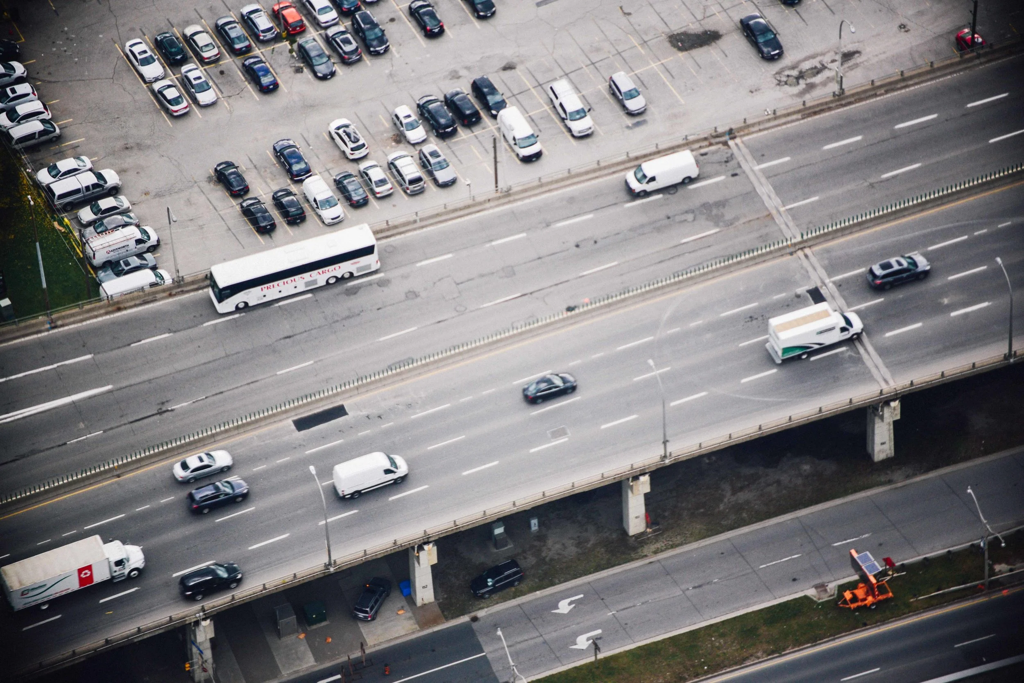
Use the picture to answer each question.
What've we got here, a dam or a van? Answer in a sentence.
I can see a van in this picture.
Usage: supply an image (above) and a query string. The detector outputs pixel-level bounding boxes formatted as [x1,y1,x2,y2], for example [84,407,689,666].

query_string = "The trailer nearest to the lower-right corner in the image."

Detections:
[835,549,894,613]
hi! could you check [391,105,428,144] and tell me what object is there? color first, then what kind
white car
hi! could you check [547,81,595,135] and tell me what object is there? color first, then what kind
white truck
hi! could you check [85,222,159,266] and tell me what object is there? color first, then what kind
white van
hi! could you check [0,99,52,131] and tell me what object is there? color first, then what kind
white car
